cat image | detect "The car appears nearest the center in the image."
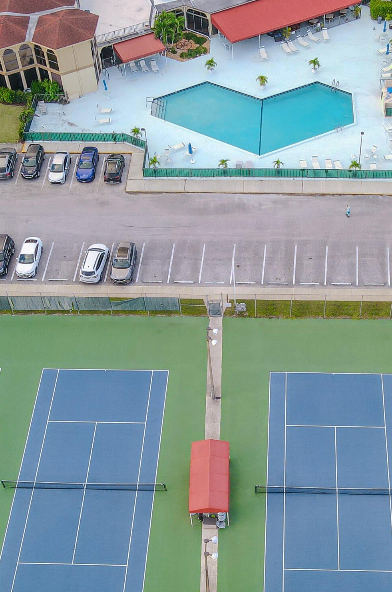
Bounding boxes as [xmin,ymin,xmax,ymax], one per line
[109,239,136,282]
